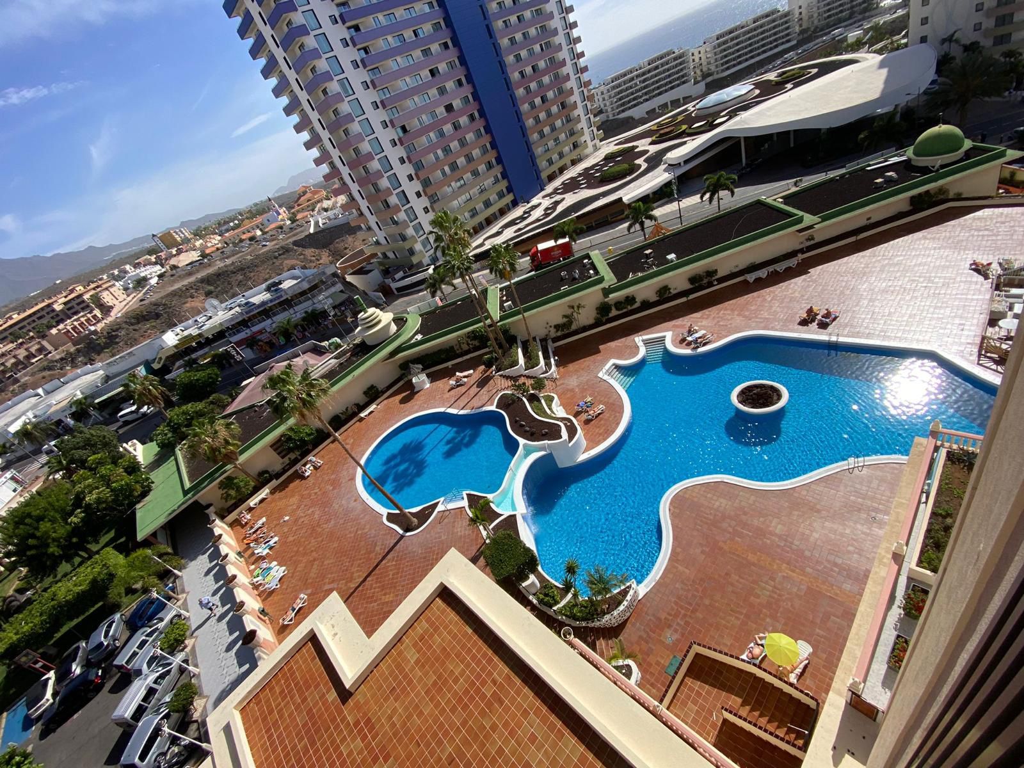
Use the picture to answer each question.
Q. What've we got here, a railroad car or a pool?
pool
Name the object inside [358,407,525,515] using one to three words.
swimming pool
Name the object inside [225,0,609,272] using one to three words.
building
